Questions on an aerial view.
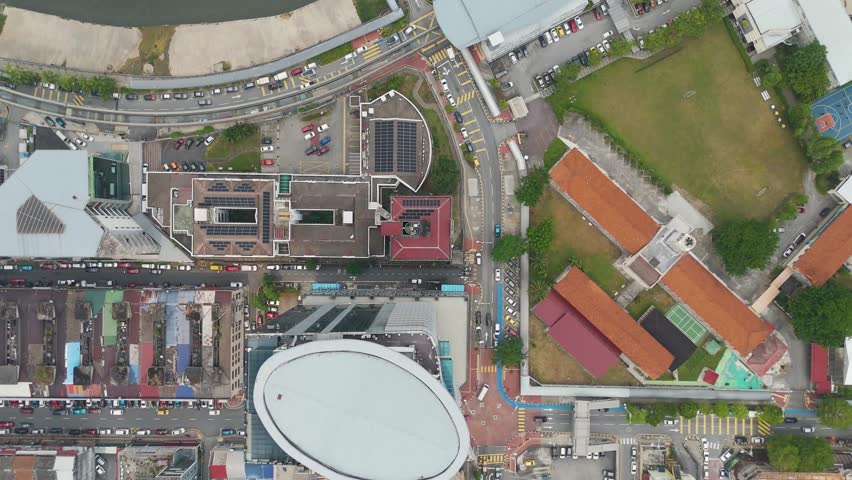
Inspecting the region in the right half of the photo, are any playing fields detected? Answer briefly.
Yes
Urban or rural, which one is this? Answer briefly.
urban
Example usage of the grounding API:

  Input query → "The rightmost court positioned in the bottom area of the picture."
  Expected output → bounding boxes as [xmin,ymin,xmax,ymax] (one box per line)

[665,303,708,344]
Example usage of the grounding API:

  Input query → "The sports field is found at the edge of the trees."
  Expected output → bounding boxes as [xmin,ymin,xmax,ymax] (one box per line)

[558,20,806,224]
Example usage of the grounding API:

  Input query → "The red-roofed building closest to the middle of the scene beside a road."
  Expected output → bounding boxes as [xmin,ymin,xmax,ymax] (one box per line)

[381,195,452,261]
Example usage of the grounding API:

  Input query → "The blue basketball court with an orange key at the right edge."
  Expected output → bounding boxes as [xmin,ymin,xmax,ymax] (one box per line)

[810,83,852,141]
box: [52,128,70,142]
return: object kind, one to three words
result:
vehicle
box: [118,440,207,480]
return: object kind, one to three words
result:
building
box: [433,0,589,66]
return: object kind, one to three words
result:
building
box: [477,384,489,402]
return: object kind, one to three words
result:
vehicle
